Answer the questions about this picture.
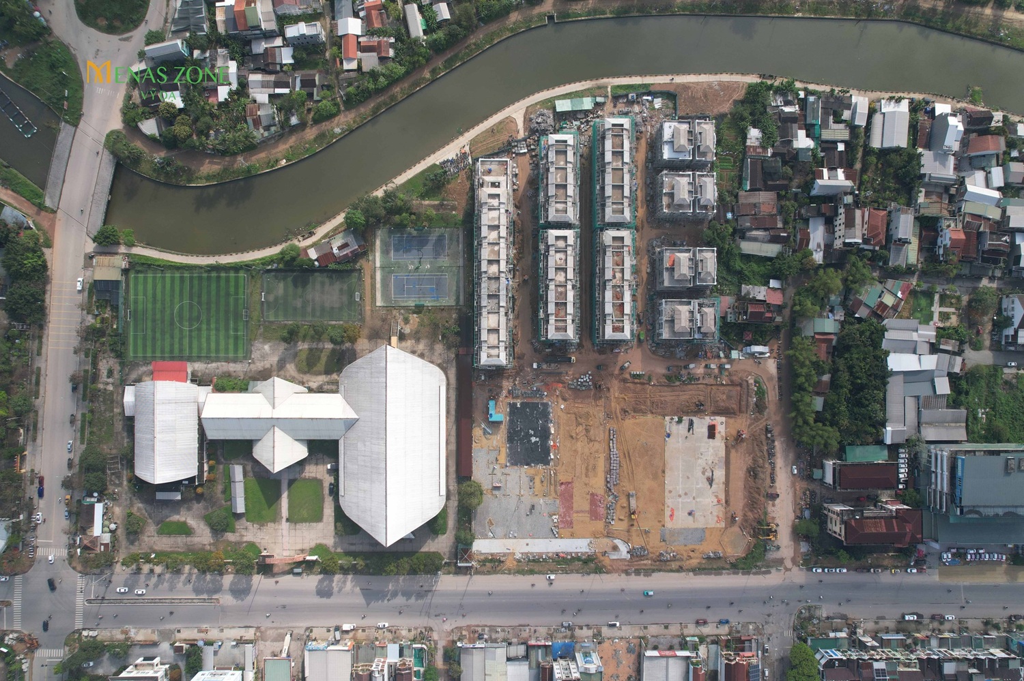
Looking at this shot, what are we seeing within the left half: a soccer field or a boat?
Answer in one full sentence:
What appears within the left half is a soccer field.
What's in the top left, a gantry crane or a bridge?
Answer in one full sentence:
There is a bridge in the top left.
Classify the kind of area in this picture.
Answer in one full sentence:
It's a residential area.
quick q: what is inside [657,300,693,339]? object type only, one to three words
house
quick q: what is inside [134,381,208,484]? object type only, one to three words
building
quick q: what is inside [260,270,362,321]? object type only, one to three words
soccer field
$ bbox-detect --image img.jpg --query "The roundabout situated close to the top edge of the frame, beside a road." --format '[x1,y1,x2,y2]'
[74,0,150,34]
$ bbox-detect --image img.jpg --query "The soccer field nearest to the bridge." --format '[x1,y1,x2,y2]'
[125,269,248,360]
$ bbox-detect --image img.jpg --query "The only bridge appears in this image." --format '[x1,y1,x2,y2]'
[43,120,119,237]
